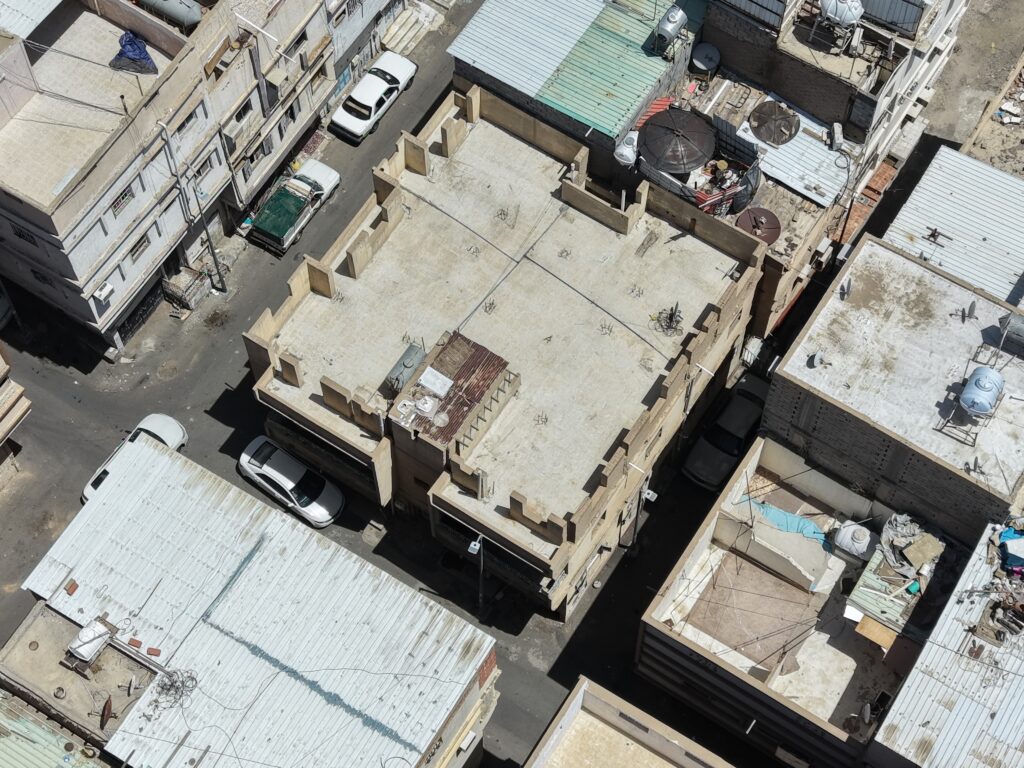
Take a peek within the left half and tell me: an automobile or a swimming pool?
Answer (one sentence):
The one visible within the left half is an automobile.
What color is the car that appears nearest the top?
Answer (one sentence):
From above, the car that appears nearest the top appears white.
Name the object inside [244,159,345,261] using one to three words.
vehicle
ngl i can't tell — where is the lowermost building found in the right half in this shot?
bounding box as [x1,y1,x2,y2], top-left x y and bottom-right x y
[521,679,726,768]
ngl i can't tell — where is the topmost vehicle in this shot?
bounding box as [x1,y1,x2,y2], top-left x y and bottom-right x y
[328,50,421,147]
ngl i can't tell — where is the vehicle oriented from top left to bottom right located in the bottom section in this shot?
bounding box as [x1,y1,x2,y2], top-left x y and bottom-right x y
[231,443,343,537]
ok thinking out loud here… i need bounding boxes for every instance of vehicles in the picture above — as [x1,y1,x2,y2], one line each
[231,443,343,537]
[328,50,421,147]
[244,159,345,261]
[683,376,776,492]
[86,420,184,508]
